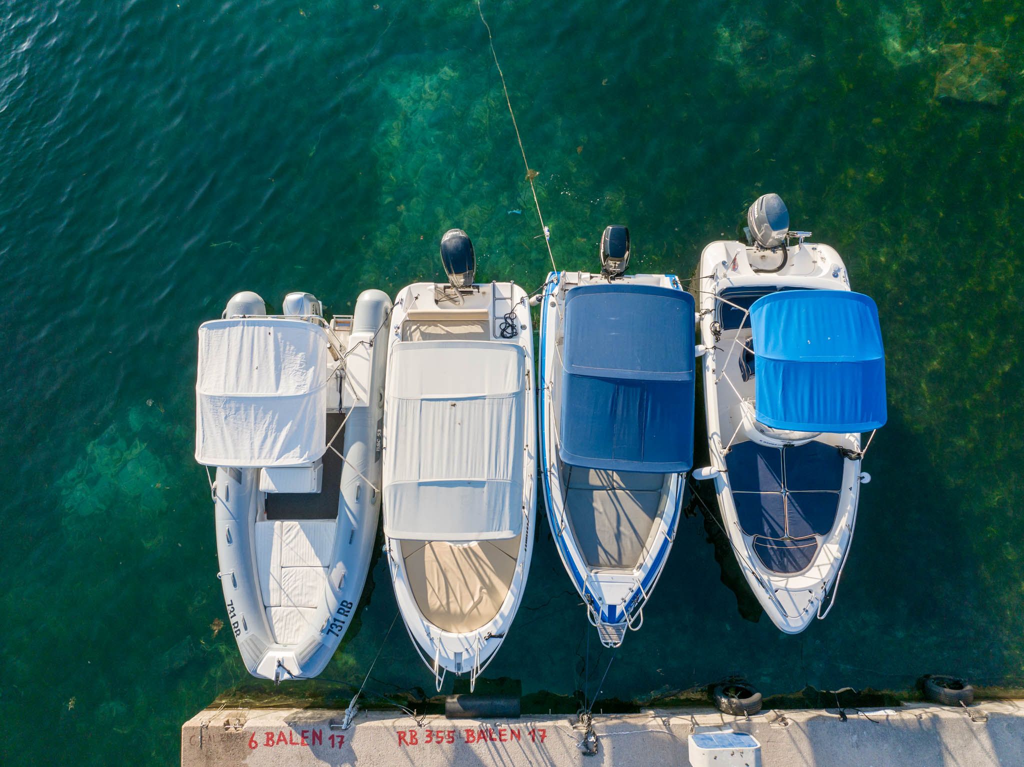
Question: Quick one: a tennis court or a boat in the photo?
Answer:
boat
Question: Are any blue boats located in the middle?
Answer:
Yes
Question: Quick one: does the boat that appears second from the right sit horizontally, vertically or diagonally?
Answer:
vertically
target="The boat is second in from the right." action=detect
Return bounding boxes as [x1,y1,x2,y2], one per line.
[536,222,697,648]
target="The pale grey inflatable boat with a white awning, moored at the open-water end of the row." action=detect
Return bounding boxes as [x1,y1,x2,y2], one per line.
[195,283,393,682]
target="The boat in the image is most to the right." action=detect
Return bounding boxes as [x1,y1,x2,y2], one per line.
[697,193,887,635]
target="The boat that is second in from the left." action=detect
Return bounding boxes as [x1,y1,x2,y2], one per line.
[382,227,539,693]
